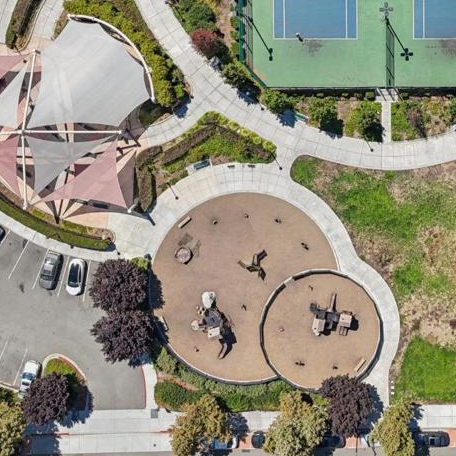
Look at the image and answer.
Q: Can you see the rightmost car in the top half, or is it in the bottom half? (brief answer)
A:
bottom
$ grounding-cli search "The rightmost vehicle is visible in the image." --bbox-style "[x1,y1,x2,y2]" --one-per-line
[415,429,450,449]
